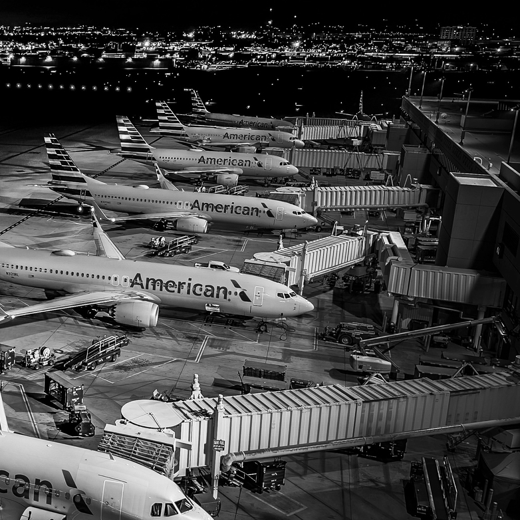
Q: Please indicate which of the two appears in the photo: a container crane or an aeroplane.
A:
aeroplane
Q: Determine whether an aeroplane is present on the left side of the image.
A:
Yes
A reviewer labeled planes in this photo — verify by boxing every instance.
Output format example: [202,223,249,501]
[0,208,312,333]
[0,368,213,520]
[151,102,303,153]
[176,89,290,130]
[22,132,314,237]
[109,117,297,187]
